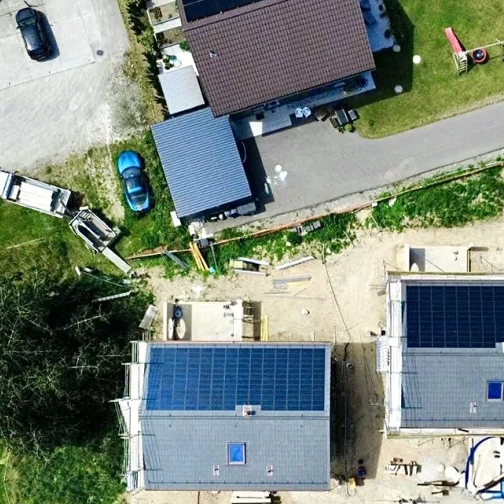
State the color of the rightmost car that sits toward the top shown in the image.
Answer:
blue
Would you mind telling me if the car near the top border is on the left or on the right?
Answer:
left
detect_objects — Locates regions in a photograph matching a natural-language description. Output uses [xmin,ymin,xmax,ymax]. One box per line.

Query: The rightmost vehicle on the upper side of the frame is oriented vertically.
[116,150,148,211]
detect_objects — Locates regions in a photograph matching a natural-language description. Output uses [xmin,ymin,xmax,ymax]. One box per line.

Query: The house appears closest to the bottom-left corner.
[135,340,332,491]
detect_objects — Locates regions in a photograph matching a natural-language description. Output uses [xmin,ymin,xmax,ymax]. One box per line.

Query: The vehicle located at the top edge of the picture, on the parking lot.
[10,3,48,60]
